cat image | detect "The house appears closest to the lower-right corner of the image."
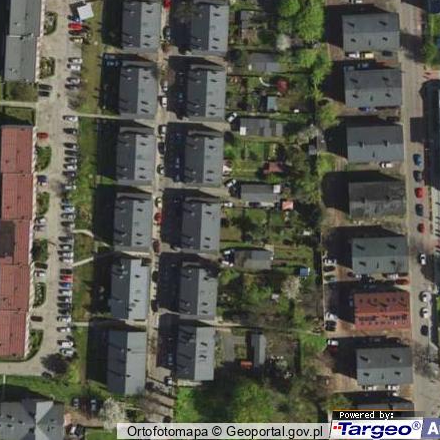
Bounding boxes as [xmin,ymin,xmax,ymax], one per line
[356,402,414,440]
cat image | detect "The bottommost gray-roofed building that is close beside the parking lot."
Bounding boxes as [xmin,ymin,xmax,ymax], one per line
[0,399,64,440]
